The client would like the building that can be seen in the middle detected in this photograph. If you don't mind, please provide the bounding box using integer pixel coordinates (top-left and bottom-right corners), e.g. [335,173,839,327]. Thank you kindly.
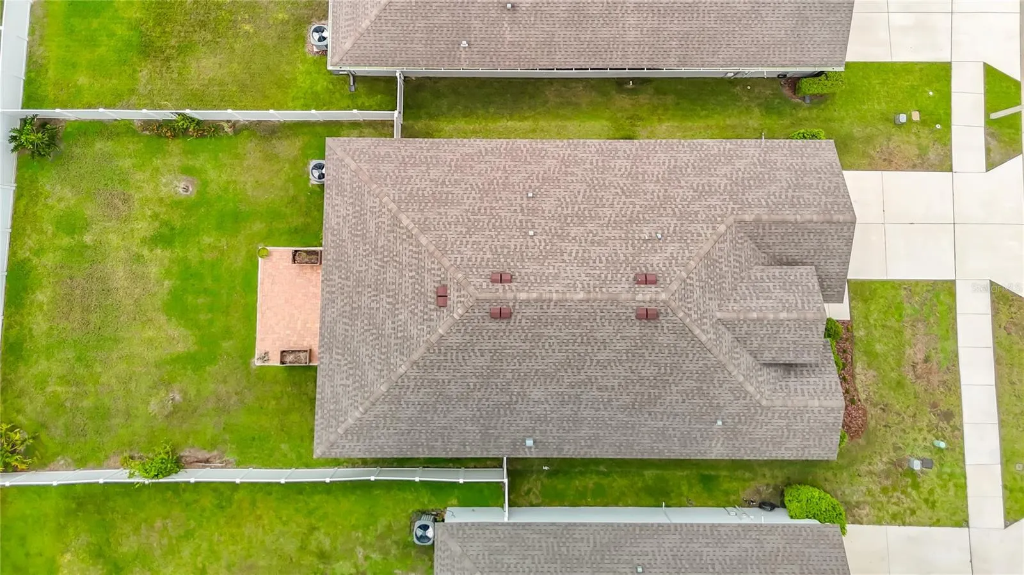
[313,137,858,461]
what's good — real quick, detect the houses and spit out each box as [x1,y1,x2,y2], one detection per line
[328,0,856,87]
[313,137,858,461]
[434,507,851,575]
